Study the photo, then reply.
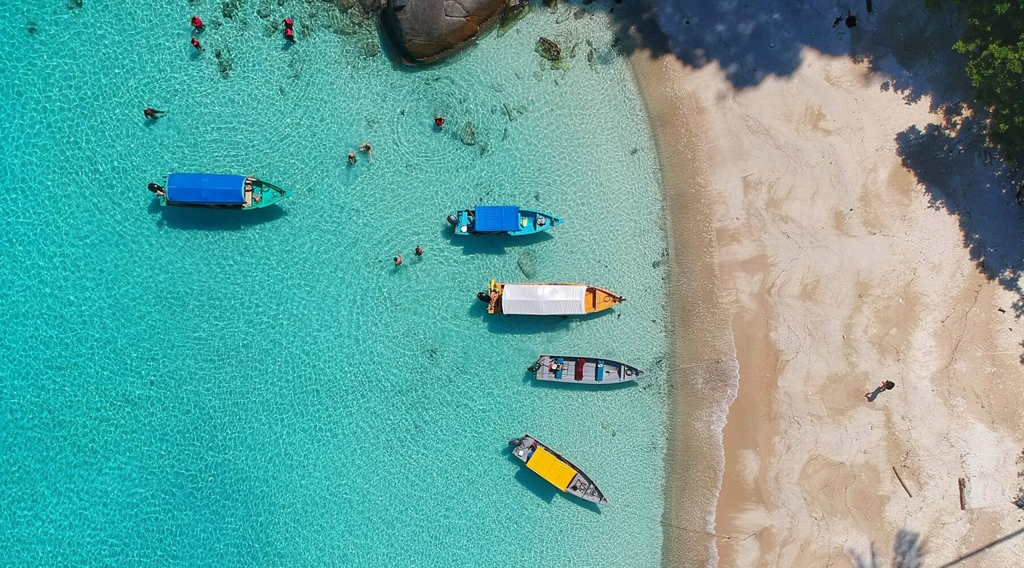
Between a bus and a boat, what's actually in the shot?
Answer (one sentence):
There is a boat in the scene.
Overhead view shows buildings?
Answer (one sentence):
No, no building is visible in the scene.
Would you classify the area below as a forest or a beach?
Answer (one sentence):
The area seen from above is a beach.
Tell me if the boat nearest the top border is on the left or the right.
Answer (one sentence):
The boat nearest the top border appears in the left half of the scene.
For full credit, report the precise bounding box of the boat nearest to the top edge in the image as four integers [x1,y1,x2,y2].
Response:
[148,172,292,208]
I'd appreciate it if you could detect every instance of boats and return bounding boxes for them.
[525,356,652,386]
[444,205,565,236]
[507,436,613,510]
[476,282,626,315]
[148,172,292,208]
